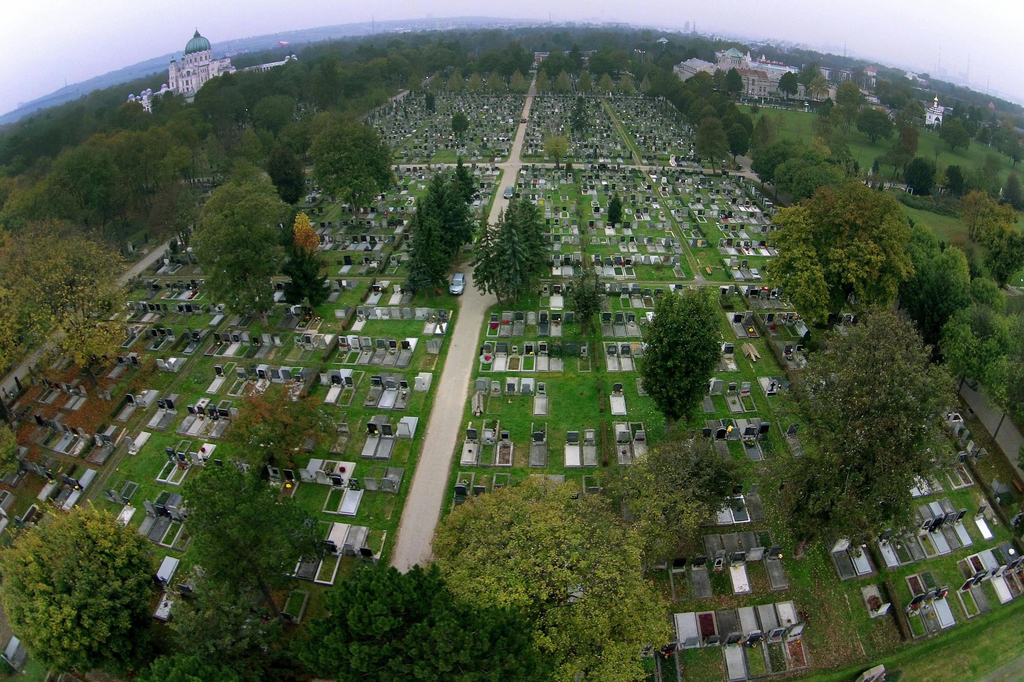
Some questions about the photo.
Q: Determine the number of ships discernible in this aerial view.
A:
0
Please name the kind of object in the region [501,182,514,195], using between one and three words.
vehicle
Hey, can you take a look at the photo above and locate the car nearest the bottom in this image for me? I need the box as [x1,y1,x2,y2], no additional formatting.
[448,267,467,291]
